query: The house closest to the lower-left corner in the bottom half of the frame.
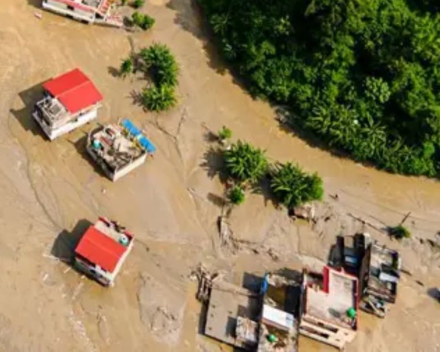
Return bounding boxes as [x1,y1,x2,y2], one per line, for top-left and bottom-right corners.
[75,217,133,287]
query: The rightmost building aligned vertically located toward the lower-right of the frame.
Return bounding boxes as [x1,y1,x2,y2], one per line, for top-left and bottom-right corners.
[361,241,400,323]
